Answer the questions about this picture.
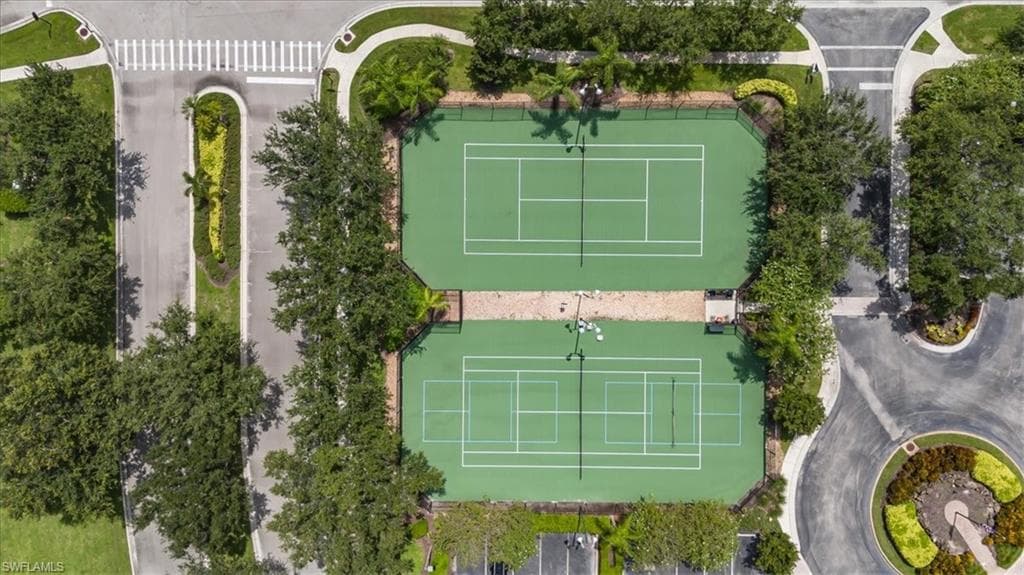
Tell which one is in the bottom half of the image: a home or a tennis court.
tennis court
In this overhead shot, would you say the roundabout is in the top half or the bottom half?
bottom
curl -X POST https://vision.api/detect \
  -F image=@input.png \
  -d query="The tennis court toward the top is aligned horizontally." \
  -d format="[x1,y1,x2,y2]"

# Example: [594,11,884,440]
[401,108,767,290]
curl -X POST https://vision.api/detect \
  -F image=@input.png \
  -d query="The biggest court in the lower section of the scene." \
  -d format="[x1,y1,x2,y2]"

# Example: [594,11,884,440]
[402,321,766,503]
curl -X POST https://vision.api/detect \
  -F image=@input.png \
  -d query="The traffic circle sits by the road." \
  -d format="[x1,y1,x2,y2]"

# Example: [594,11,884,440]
[870,431,1024,575]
